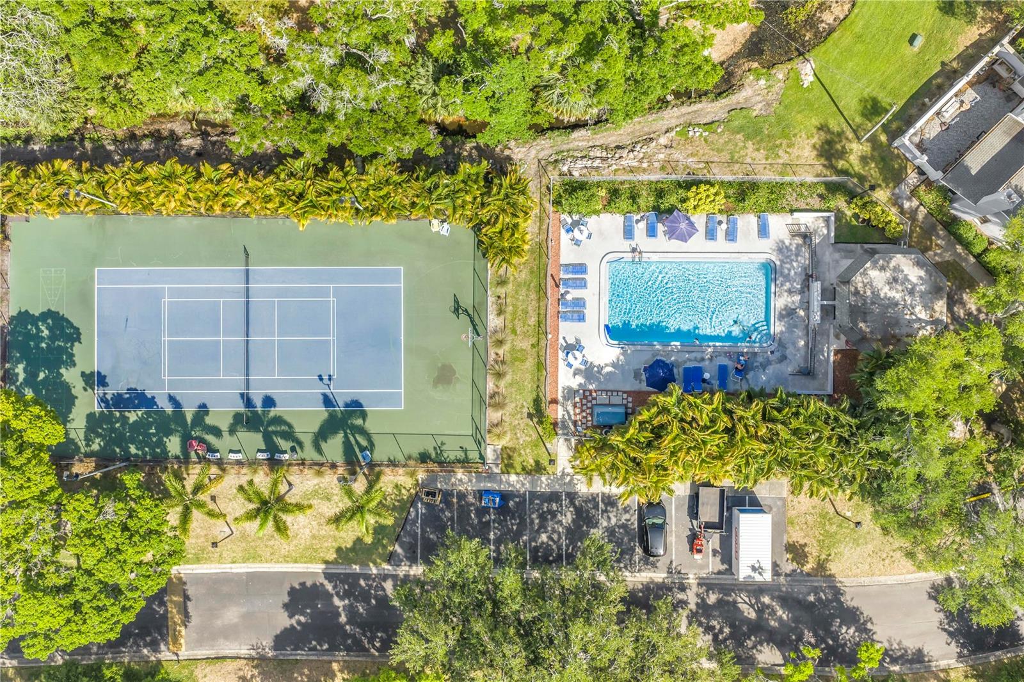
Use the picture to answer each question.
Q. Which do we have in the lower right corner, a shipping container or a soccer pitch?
shipping container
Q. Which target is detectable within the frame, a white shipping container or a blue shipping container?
white shipping container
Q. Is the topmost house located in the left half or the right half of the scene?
right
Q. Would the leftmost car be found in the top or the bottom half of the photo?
bottom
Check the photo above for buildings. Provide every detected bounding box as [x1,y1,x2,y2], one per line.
[925,101,1024,258]
[833,245,950,361]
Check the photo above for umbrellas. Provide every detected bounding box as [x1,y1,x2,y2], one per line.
[662,209,697,246]
[640,357,677,392]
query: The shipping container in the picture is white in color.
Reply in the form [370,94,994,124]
[731,508,772,581]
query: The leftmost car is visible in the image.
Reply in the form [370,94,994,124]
[640,501,669,559]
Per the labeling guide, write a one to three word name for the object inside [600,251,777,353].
swimming pool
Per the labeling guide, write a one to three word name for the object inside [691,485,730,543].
trailer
